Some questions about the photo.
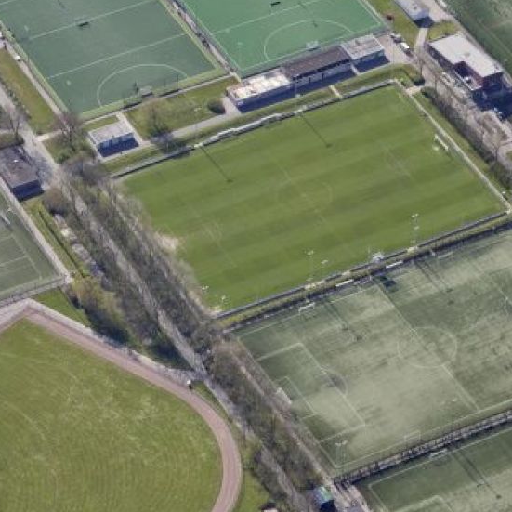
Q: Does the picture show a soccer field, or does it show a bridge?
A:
soccer field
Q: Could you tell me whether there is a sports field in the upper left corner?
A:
Yes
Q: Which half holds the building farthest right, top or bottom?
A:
top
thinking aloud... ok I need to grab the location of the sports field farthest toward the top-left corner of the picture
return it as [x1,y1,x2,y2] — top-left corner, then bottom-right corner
[0,0,227,123]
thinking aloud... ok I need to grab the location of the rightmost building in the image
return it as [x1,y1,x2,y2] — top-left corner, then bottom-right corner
[428,29,510,99]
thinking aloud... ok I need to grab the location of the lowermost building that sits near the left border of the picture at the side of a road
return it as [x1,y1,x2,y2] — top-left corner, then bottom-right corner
[0,145,41,195]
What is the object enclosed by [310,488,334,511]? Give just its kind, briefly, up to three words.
shed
